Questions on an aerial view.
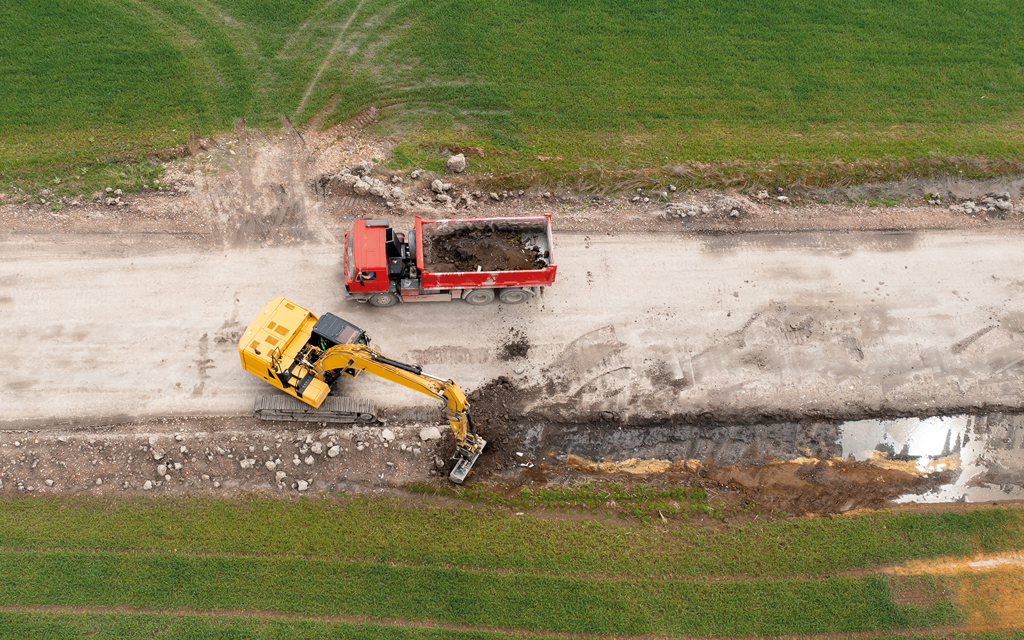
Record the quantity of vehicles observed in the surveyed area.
2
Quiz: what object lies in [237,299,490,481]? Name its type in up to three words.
work vehicle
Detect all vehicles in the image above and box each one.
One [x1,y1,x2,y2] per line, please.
[237,299,490,481]
[343,212,557,306]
